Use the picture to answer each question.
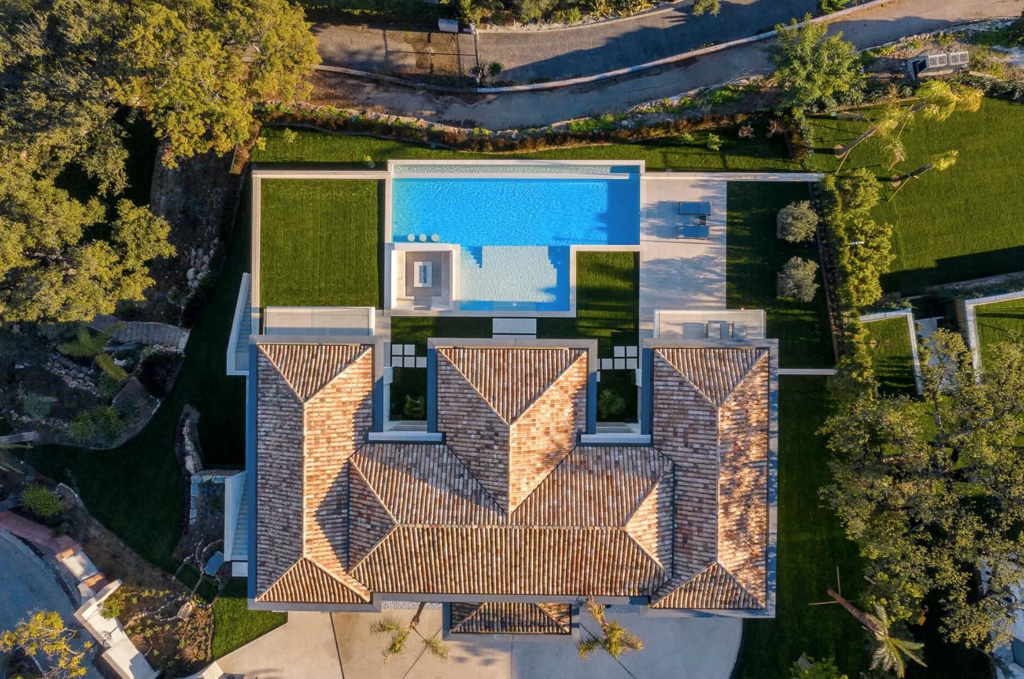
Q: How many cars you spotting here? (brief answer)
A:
zero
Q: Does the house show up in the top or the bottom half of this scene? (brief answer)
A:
bottom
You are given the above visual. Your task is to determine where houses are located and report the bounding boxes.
[247,309,778,641]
